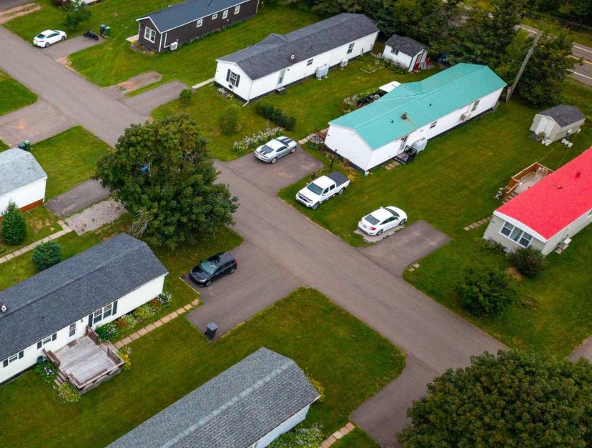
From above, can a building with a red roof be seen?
Yes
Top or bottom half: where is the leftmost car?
top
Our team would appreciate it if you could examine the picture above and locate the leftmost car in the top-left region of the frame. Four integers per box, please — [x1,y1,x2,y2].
[30,28,69,49]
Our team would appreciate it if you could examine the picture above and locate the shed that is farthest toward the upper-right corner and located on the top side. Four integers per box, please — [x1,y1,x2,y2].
[528,103,585,143]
